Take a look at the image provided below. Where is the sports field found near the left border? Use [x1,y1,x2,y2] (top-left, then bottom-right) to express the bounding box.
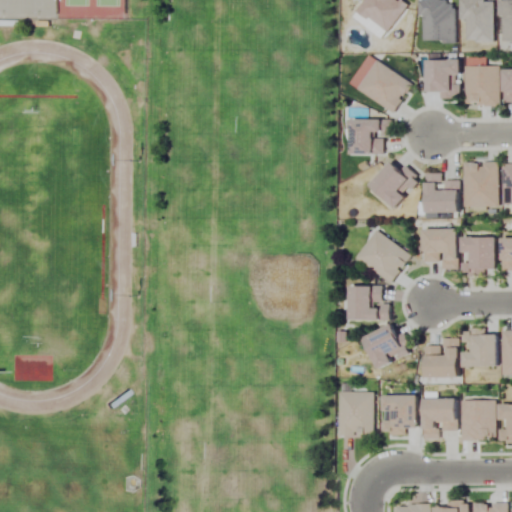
[0,62,110,391]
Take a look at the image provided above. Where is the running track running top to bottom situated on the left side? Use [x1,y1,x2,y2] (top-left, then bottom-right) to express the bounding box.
[0,40,133,414]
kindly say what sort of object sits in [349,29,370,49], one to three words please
swimming pool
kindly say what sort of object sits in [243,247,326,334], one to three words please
baseball field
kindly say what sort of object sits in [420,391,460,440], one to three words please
house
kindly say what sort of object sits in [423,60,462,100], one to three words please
house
